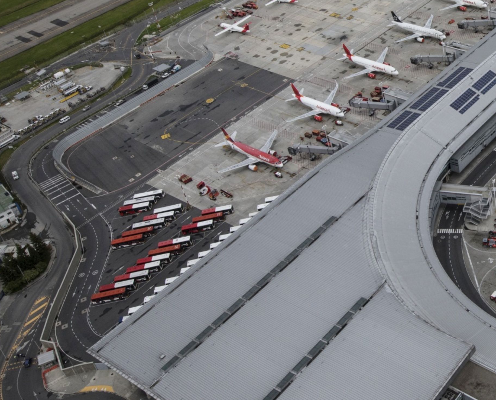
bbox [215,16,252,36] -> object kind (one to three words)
airplane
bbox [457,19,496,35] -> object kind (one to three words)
jet bridge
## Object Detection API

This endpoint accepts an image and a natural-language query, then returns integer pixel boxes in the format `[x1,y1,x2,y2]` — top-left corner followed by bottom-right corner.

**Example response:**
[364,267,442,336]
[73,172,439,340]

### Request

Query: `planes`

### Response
[386,12,446,42]
[439,0,486,11]
[210,129,283,174]
[267,0,300,6]
[215,16,252,36]
[282,81,345,122]
[336,43,399,78]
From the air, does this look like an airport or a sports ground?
airport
